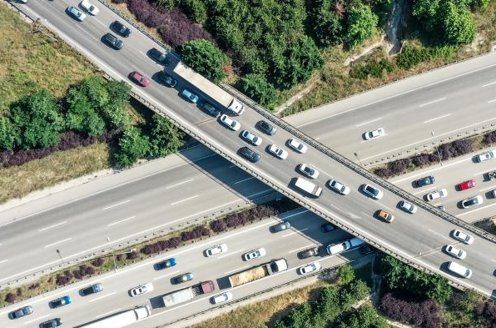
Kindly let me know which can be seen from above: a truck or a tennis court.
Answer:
truck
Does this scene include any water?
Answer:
No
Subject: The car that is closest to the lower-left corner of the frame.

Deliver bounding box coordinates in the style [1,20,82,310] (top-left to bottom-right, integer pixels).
[10,305,33,319]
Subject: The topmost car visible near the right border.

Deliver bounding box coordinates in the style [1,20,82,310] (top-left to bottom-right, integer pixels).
[475,150,496,163]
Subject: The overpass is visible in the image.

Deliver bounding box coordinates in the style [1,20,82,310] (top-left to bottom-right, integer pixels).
[90,16,489,287]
